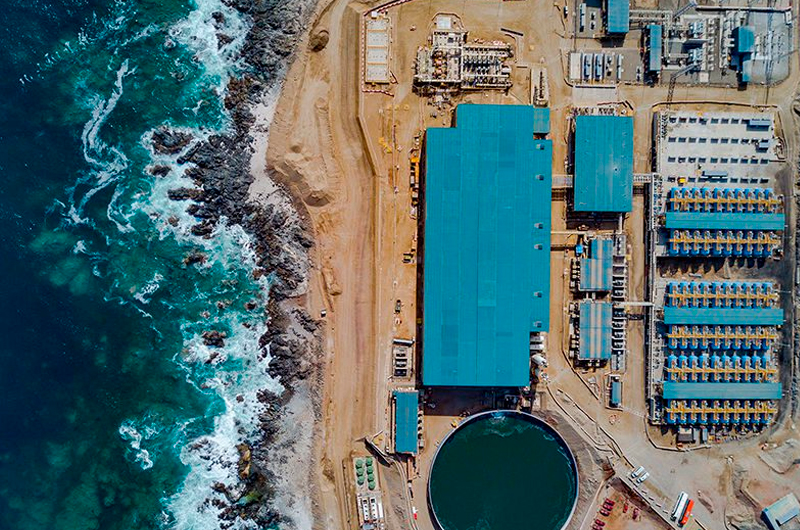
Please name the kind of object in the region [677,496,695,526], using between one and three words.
vehicle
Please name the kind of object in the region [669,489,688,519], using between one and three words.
vehicle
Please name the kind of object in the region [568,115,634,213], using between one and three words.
building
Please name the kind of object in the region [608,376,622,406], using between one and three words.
shed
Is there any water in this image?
Yes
